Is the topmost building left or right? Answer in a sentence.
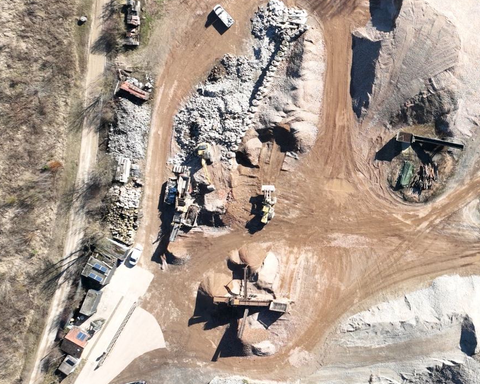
It is on the left.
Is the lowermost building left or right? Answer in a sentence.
It is on the left.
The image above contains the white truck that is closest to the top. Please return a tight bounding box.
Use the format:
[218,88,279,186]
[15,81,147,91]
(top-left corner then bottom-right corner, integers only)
[212,4,236,28]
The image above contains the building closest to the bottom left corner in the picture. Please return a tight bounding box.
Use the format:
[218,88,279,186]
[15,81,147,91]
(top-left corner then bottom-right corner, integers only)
[58,351,87,377]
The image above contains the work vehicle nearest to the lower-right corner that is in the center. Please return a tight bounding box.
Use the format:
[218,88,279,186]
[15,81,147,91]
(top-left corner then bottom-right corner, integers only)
[259,183,277,222]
